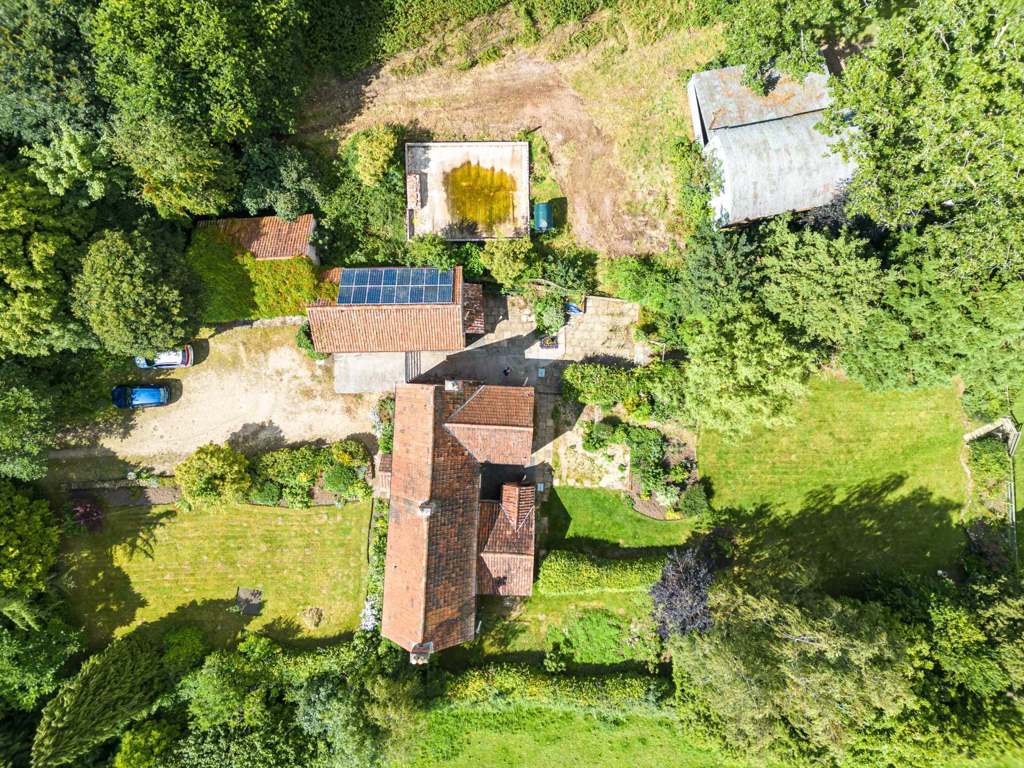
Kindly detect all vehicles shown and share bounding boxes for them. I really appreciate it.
[113,383,172,411]
[137,343,195,371]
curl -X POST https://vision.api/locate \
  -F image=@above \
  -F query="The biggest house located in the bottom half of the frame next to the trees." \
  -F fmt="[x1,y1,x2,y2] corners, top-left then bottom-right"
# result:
[378,377,535,664]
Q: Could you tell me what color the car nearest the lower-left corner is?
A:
blue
